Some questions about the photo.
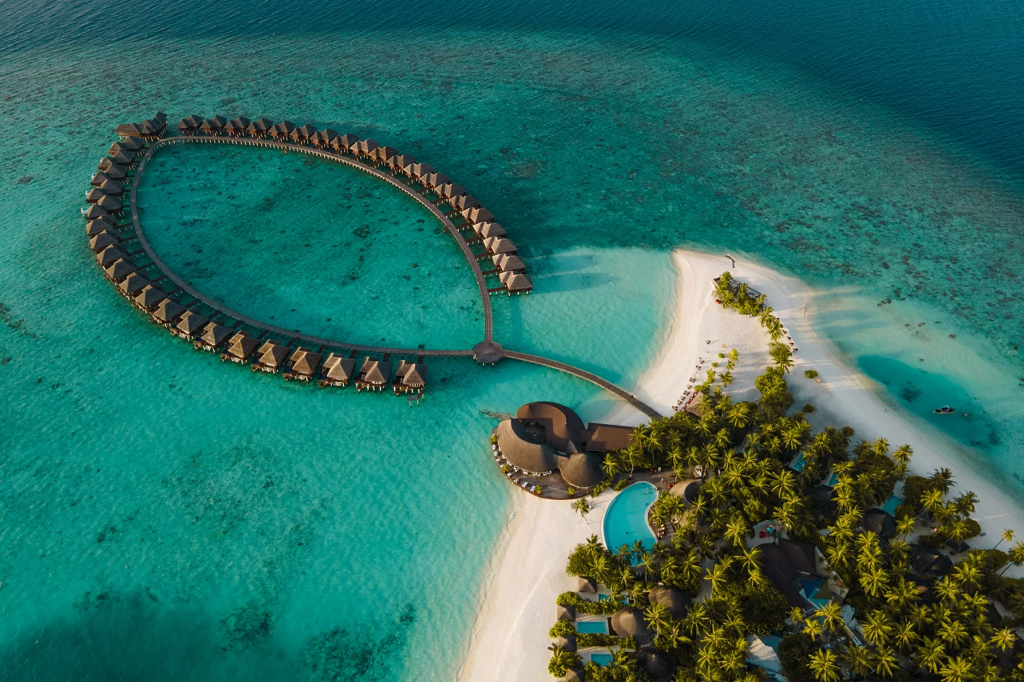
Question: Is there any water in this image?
Yes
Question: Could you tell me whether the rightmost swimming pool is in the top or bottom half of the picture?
bottom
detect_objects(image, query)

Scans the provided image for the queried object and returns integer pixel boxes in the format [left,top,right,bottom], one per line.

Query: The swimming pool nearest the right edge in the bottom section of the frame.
[879,493,906,519]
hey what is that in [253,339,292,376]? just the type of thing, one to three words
house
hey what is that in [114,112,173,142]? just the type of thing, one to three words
shed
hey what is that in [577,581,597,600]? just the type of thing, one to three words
shed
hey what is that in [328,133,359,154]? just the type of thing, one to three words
house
